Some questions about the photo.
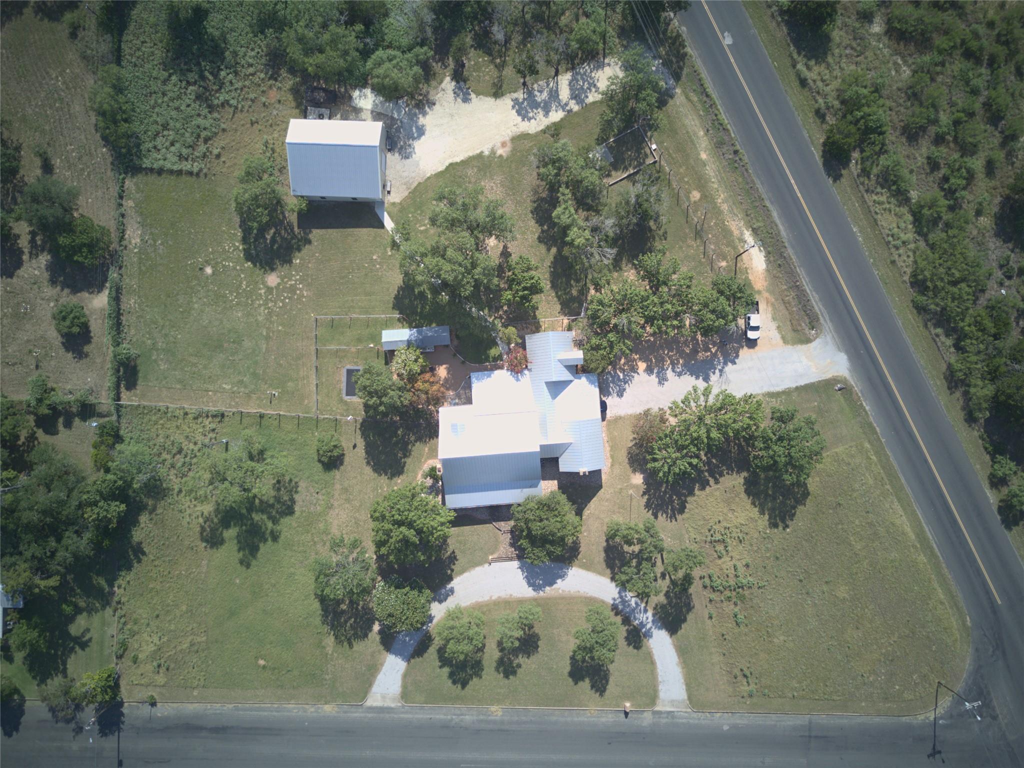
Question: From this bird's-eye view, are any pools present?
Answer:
No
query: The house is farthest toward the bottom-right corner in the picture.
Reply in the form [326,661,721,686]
[439,332,605,509]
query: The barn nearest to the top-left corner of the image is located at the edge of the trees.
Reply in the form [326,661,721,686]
[286,119,386,203]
